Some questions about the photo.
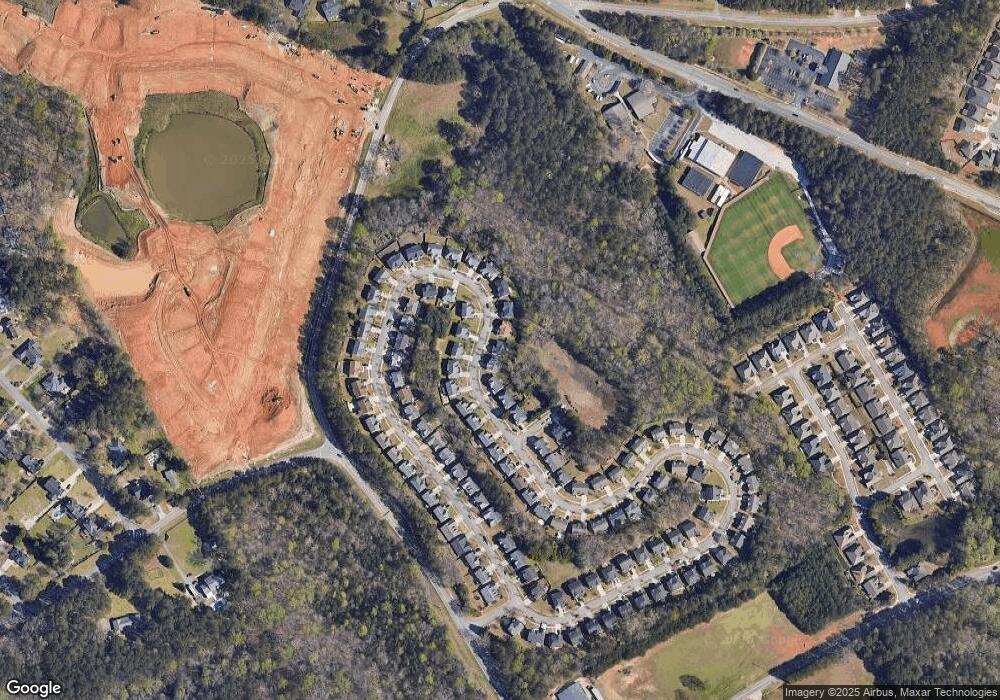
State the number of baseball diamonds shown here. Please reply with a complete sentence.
I count just 1 baseball diamond.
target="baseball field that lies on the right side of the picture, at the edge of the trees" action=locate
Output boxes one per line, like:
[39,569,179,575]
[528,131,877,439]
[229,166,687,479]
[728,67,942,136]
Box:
[704,172,826,308]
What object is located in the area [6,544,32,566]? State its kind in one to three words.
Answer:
house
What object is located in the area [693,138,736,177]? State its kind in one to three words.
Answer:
building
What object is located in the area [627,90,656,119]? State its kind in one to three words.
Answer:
building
